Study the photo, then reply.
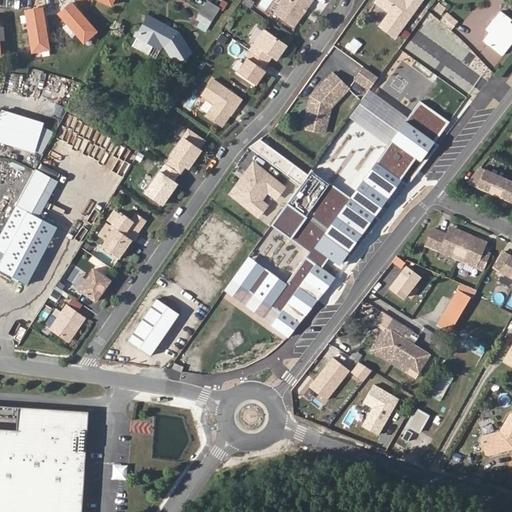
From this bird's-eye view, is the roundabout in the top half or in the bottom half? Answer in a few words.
bottom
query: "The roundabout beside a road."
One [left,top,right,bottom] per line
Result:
[216,382,288,452]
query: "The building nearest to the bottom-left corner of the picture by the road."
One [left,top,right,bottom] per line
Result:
[0,407,88,512]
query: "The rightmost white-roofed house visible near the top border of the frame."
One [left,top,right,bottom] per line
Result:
[483,10,512,56]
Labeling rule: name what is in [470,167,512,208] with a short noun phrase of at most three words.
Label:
house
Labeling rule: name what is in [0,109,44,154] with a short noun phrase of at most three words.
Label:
building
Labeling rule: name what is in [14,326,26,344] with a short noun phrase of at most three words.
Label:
vehicle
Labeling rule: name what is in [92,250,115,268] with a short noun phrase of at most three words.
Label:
swimming pool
